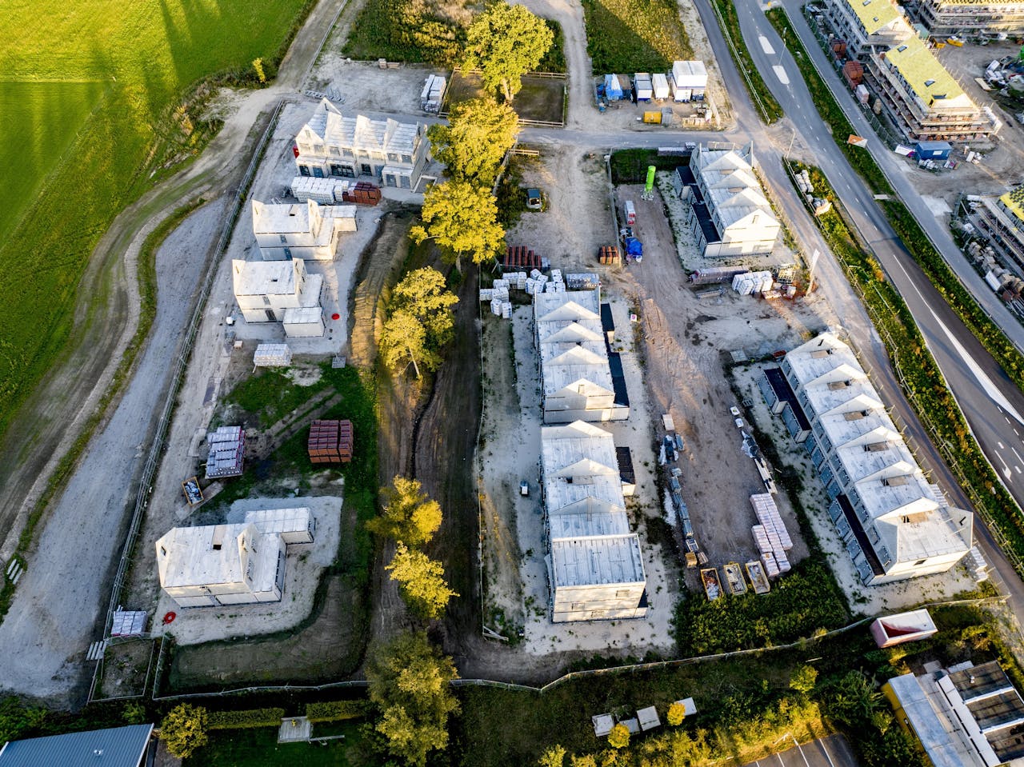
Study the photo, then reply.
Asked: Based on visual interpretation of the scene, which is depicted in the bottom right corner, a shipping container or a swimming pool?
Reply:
shipping container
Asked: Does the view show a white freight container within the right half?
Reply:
Yes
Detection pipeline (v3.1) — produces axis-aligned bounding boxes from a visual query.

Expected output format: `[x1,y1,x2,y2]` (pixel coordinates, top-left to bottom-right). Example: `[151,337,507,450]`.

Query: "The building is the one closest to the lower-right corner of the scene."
[877,662,1024,767]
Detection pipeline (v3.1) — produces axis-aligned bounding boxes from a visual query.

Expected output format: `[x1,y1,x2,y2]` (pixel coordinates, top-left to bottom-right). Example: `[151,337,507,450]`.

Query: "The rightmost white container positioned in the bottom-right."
[870,611,939,648]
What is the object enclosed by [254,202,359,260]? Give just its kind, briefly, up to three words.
house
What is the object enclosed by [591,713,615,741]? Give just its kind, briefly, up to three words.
shed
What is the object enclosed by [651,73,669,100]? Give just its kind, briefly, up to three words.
building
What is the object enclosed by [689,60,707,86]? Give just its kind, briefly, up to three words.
building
